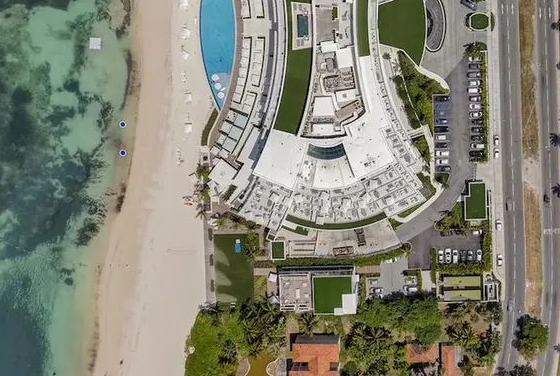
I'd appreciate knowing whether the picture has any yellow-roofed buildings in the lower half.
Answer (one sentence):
Yes, the scene does show a yellow-roofed building in the lower half.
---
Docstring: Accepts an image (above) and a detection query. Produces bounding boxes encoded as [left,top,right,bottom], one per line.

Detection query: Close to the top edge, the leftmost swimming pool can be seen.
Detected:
[198,0,236,111]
